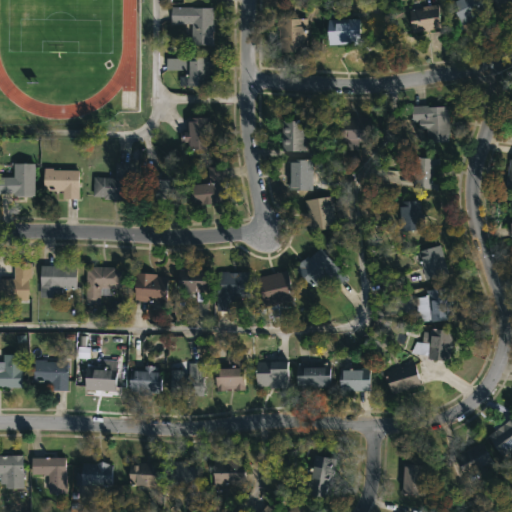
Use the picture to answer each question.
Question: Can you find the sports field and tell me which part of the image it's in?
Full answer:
The sports field sits in the top left section of the image.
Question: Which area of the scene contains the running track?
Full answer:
The running track appears toward the top left of the photo.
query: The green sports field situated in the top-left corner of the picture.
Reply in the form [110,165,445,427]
[0,0,122,105]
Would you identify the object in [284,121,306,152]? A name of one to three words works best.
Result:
house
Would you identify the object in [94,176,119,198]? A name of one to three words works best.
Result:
house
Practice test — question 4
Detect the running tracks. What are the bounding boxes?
[0,0,137,120]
